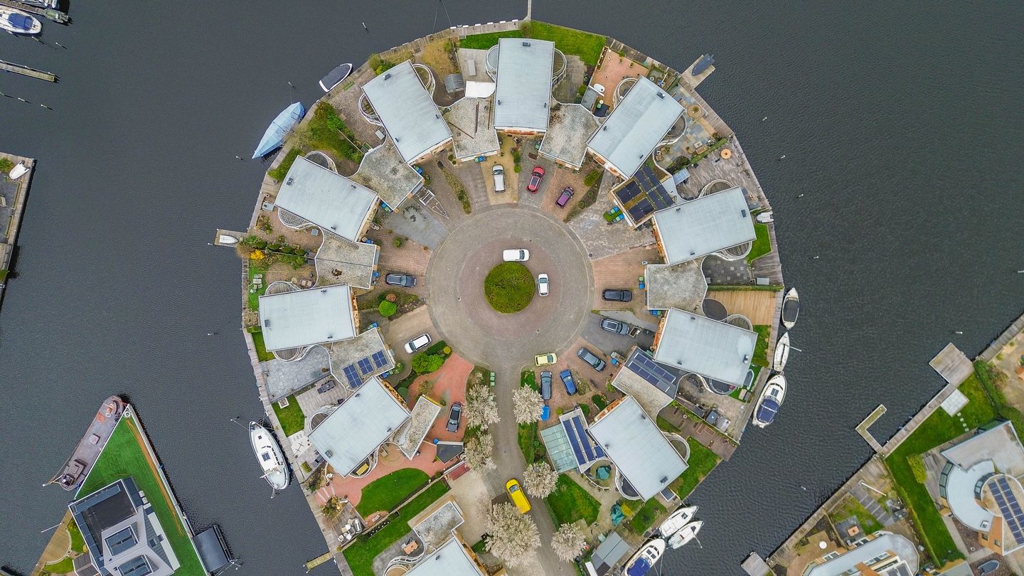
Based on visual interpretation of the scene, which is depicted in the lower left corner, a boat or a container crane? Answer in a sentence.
The one visible in the lower left corner is a boat.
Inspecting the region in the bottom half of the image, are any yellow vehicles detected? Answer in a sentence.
Yes, a yellow vehicle is visible in the bottom half of the image.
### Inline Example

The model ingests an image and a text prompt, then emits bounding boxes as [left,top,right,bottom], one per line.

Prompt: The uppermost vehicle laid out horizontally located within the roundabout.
[503,248,530,261]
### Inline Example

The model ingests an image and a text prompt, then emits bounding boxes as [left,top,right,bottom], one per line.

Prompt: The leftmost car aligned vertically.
[448,402,462,431]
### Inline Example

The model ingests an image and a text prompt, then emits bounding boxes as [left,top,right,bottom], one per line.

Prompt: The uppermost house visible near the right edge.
[936,416,1024,552]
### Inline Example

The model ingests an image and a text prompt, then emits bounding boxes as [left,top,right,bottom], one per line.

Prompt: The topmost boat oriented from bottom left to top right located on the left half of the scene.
[321,64,353,92]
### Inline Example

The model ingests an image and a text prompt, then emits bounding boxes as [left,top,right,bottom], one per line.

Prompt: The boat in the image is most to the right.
[975,560,1000,575]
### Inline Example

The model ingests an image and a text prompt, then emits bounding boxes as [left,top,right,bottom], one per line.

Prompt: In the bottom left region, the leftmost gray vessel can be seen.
[56,393,124,517]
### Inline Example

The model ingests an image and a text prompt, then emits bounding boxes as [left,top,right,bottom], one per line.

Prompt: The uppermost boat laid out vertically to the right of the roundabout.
[782,288,799,329]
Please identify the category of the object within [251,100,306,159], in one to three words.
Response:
boat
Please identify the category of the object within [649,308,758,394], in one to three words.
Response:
house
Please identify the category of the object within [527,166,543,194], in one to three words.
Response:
car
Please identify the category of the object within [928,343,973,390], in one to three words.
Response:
pier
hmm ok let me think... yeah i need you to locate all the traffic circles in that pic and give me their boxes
[425,202,595,371]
